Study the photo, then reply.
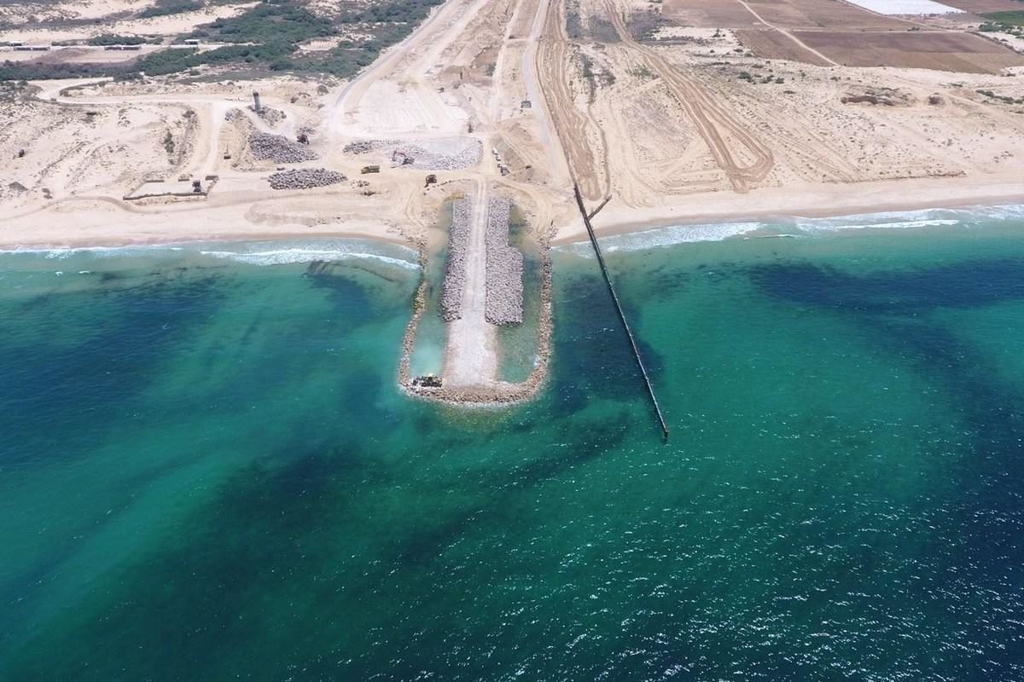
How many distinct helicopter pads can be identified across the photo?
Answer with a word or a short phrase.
0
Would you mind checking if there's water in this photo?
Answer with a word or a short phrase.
Yes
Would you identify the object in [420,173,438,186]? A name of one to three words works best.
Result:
vehicle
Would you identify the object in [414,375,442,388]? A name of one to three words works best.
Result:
vehicle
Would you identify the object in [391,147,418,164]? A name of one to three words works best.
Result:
work vehicle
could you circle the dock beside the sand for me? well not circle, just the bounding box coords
[573,183,670,438]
